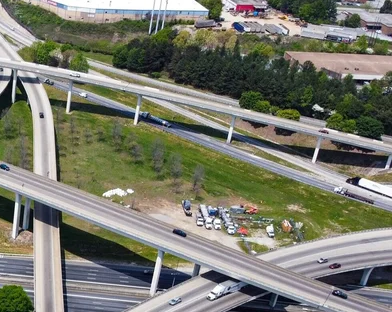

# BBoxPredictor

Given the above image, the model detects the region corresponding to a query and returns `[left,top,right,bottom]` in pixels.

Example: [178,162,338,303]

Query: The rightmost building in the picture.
[351,10,392,34]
